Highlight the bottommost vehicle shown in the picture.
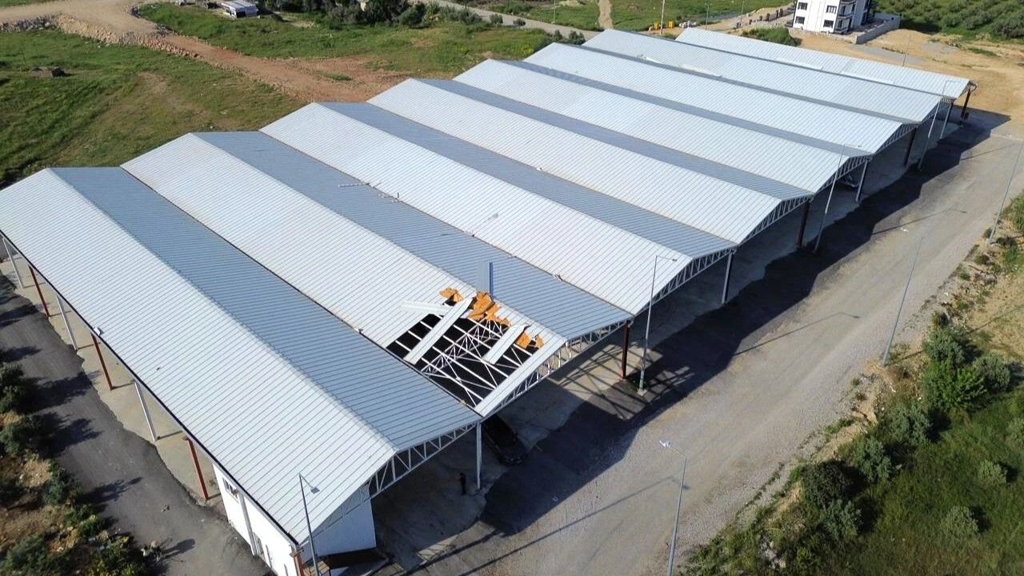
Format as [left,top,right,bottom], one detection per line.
[486,412,526,464]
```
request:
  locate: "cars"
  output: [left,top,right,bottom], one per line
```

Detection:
[486,412,526,464]
[828,174,846,187]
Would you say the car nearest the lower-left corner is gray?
No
